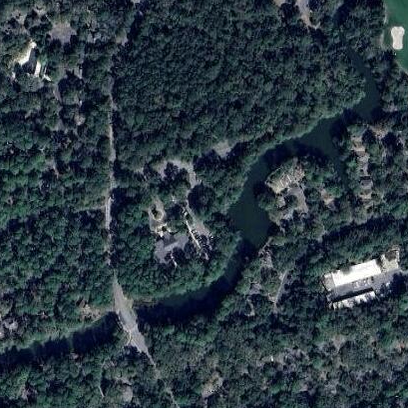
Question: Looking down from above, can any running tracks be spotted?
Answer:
No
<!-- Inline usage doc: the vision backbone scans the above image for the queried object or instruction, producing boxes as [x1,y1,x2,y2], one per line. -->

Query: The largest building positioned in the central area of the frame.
[148,230,183,259]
